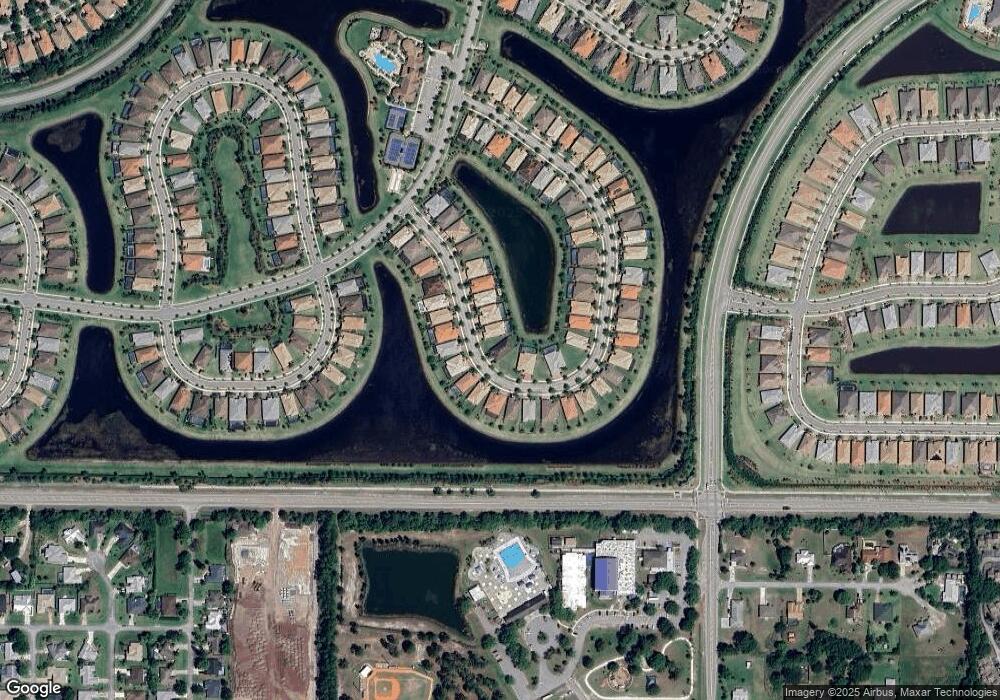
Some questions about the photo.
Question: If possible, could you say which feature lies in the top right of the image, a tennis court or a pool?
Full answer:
It is a pool that can be seen in the top right of the image.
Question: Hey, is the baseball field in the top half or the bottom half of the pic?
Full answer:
You can find the baseball field in the bottom half.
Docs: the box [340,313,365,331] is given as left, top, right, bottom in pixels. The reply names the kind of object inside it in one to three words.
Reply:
house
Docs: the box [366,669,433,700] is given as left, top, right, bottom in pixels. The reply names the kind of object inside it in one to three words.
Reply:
baseball field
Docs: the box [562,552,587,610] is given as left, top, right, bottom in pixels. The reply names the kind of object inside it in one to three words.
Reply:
building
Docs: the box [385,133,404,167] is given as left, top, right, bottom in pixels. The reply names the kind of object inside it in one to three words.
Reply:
tennis court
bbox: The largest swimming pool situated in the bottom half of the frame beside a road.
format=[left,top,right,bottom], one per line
[468,532,551,621]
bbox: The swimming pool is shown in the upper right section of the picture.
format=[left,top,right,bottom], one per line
[962,0,989,32]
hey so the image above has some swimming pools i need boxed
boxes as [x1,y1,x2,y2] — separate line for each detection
[468,532,551,621]
[363,41,404,79]
[962,0,989,32]
[863,539,876,549]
